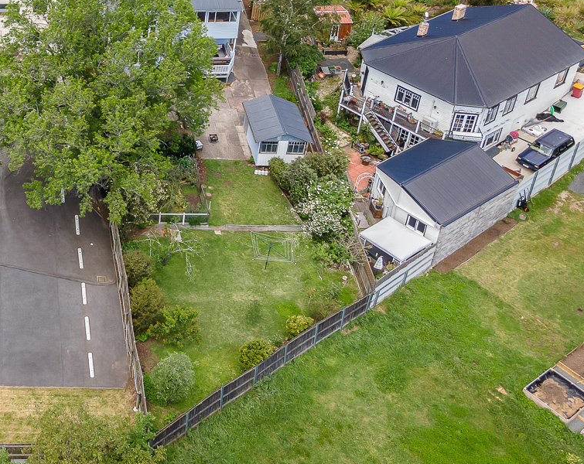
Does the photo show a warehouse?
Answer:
No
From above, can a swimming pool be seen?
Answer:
No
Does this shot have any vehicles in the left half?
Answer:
No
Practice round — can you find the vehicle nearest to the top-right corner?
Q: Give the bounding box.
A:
[519,119,579,168]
